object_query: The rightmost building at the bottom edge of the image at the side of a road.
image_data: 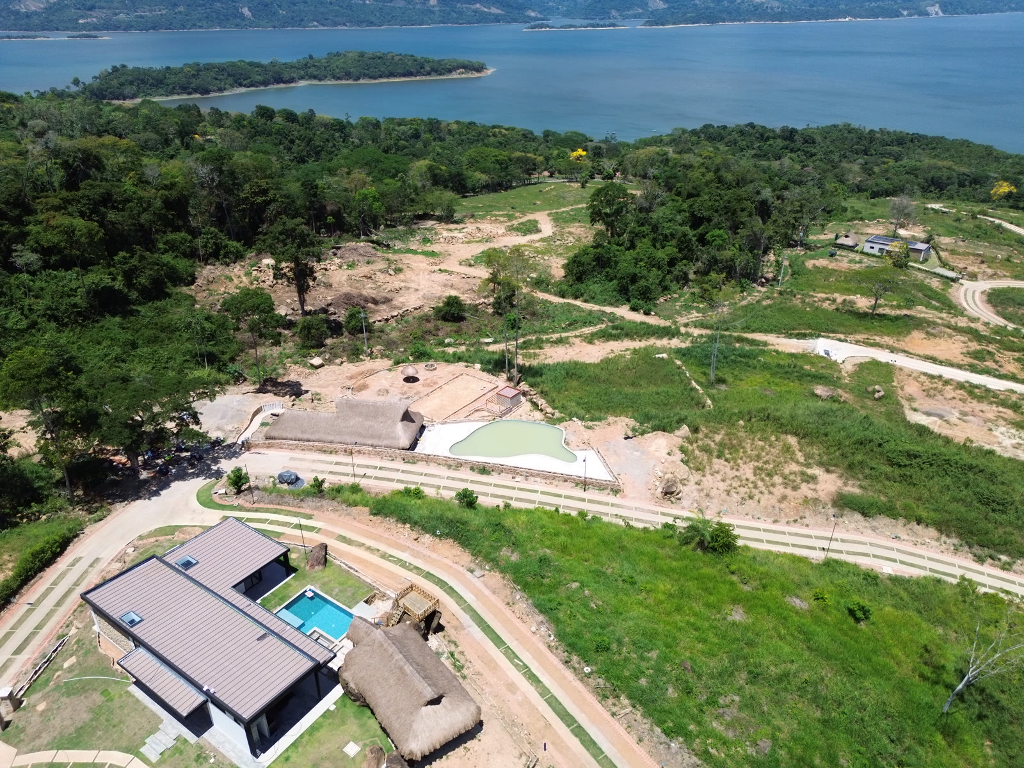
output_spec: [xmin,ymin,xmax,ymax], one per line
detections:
[341,605,485,767]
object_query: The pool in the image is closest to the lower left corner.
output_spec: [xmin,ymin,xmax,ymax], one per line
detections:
[271,581,361,645]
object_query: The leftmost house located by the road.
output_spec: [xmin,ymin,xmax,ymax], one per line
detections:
[80,517,341,768]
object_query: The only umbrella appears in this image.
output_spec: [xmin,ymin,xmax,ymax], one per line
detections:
[401,363,419,382]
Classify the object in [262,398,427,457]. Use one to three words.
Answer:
building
